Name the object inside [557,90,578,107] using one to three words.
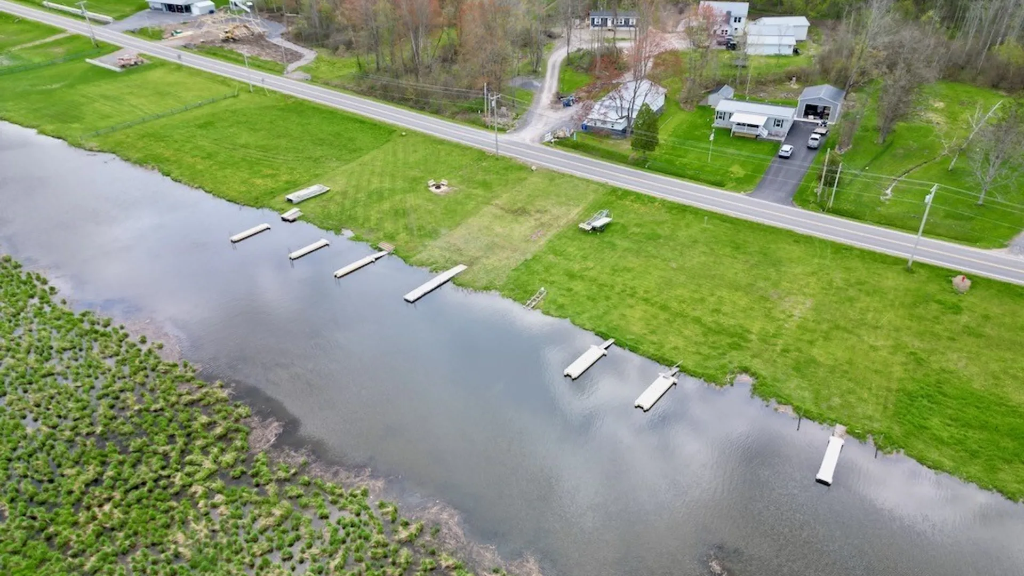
work vehicle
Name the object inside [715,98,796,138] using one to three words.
house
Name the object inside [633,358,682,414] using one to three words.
pier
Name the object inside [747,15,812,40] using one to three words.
barn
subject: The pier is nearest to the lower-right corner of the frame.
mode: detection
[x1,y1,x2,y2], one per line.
[813,431,848,488]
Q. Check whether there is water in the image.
Yes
